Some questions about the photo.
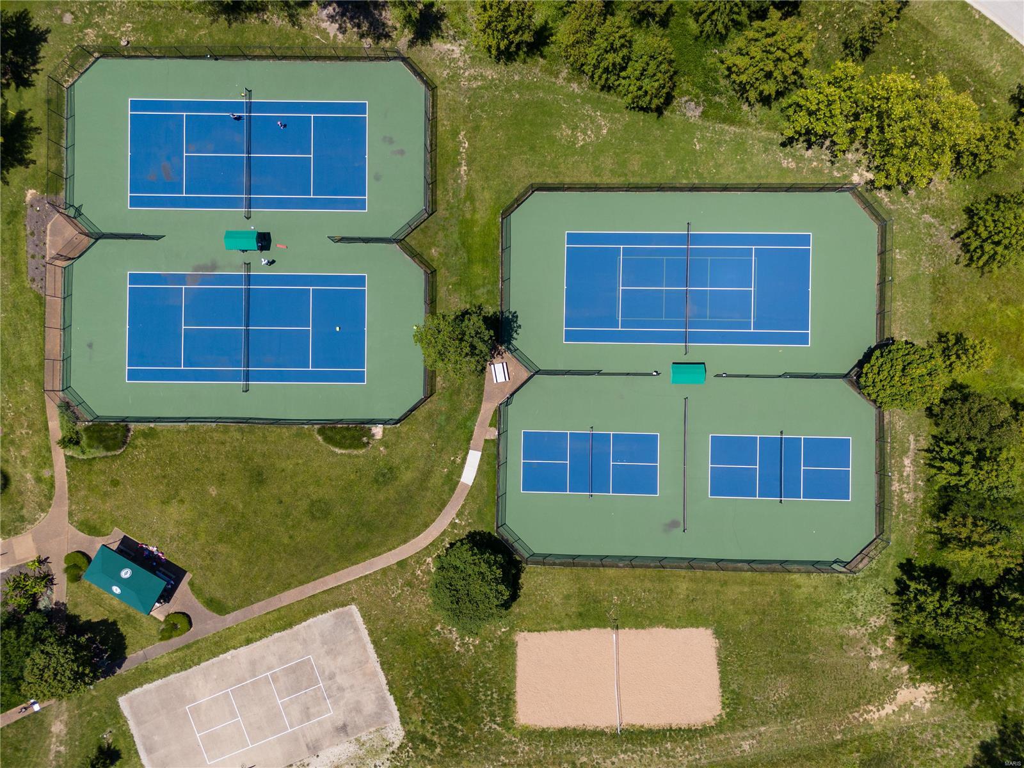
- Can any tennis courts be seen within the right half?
Yes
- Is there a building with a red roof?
No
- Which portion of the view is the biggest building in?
bottom left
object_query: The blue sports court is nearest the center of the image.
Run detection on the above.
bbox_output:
[521,430,659,496]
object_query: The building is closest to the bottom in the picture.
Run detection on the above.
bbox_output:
[83,542,174,615]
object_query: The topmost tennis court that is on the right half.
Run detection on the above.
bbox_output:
[564,231,812,346]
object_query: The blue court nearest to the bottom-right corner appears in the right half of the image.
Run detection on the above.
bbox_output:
[709,435,851,501]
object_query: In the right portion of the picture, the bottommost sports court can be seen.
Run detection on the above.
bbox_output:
[516,627,722,728]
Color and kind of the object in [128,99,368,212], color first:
blue tennis court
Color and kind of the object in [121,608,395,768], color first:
white sports court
